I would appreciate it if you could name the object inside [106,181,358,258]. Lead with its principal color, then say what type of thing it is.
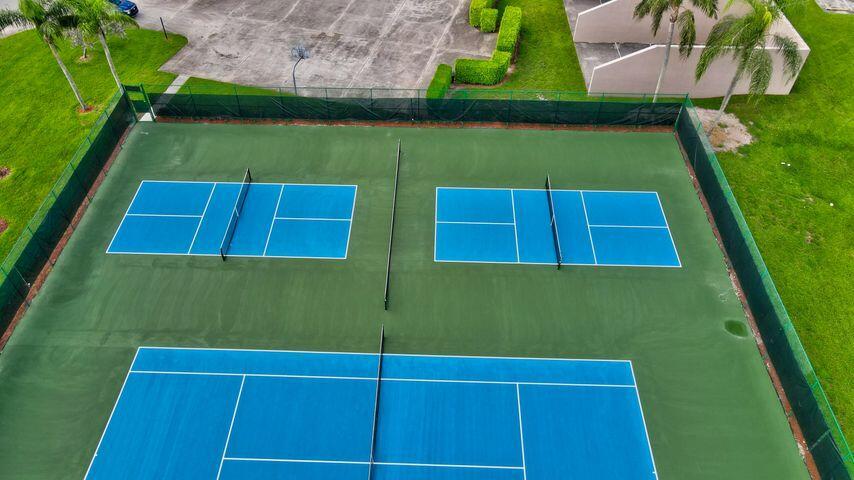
blue sports court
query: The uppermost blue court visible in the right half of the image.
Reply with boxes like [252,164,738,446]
[435,188,681,267]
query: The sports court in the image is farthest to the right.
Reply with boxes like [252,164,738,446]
[561,0,811,100]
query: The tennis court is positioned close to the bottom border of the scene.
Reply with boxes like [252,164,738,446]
[85,348,657,480]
